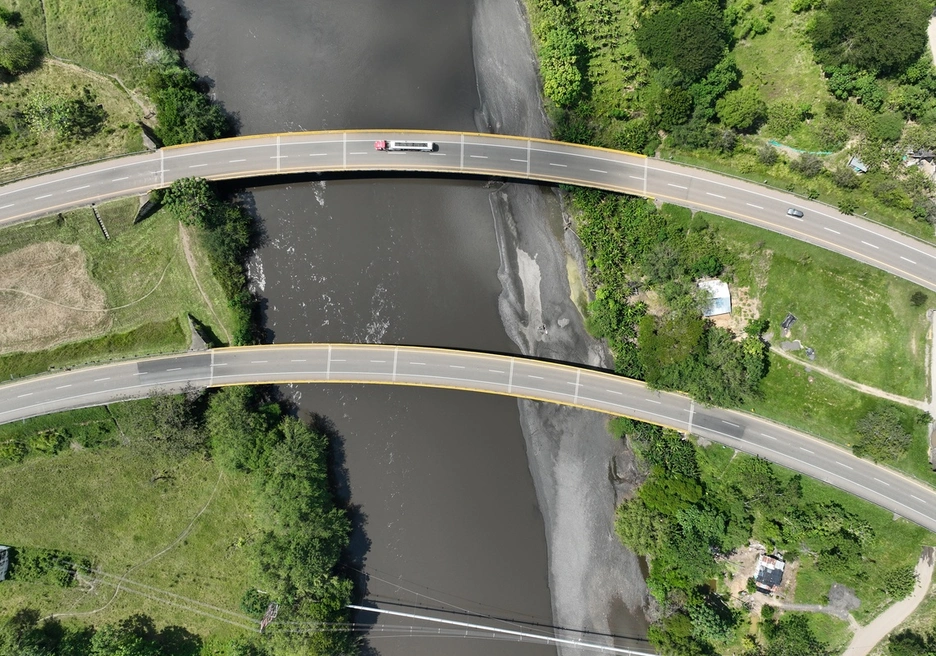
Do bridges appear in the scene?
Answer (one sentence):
Yes, this view includes a bridge.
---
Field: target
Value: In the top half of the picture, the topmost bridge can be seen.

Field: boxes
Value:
[155,130,653,198]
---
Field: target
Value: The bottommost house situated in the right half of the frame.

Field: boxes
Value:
[751,554,787,590]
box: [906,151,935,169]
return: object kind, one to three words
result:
shed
